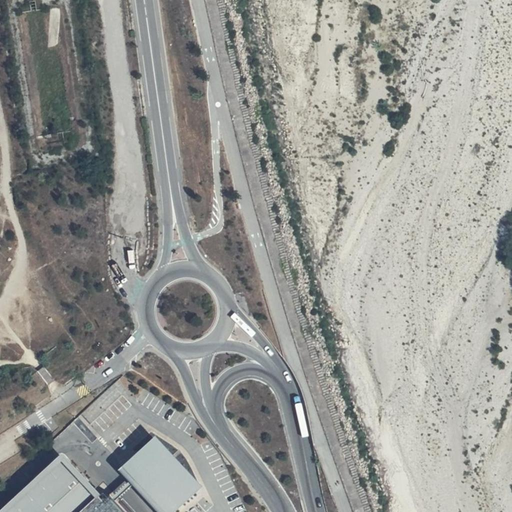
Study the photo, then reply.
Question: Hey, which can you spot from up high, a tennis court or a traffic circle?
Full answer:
Looking from above, you can make out a traffic circle.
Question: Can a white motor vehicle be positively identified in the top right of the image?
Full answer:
No, no white motor vehicle appears in the top right of the image.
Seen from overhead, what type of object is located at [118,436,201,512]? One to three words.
building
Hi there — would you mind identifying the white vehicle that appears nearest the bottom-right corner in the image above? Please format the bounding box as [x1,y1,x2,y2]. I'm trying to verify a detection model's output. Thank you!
[292,396,309,440]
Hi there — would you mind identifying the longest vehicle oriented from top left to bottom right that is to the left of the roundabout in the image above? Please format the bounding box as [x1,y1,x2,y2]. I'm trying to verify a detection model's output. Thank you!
[108,260,128,283]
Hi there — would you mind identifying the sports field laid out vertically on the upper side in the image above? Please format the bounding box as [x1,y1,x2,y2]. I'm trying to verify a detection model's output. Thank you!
[27,8,72,130]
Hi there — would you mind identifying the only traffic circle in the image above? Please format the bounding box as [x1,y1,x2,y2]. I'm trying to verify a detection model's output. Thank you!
[140,264,233,358]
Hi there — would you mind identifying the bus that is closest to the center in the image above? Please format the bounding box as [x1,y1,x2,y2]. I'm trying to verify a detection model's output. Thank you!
[229,311,256,338]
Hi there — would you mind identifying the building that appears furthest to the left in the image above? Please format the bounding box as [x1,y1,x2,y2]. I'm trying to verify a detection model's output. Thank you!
[0,452,100,512]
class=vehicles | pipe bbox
[122,335,136,348]
[264,346,275,358]
[108,260,128,283]
[292,396,309,440]
[283,371,292,384]
[314,496,322,509]
[229,311,256,338]
[114,437,124,448]
[93,360,104,369]
[104,352,114,362]
[128,250,136,270]
[234,504,246,512]
[164,408,173,420]
[111,275,122,288]
[101,367,114,378]
[114,344,125,355]
[118,287,128,298]
[226,493,238,502]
